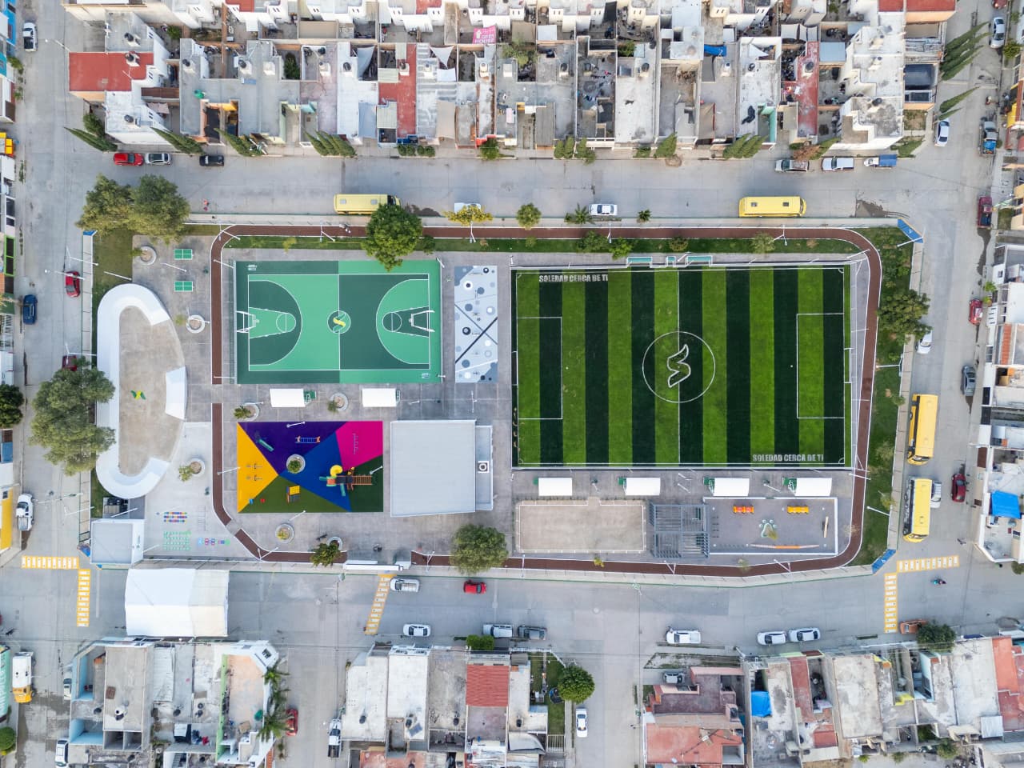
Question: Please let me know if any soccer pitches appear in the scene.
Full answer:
Yes, the frame does contain a soccer pitch.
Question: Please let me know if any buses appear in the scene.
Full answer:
Yes, the photo shows a bus.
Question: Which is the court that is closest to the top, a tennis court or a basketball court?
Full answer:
It looks like the court that is closest to the top is a basketball court.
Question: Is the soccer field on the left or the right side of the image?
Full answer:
The soccer field is on the right side of the image.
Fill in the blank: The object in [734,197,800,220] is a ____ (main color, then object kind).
yellow bus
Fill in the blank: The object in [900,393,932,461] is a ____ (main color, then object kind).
yellow bus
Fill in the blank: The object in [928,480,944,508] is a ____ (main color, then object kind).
white car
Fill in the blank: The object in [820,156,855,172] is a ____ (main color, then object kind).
white vehicle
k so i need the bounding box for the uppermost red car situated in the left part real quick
[113,151,145,167]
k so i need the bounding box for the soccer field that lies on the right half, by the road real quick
[512,265,851,468]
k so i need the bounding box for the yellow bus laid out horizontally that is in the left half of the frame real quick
[336,195,398,218]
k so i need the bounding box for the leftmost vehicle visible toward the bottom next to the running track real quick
[390,578,420,592]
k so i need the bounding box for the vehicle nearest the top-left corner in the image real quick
[22,22,39,53]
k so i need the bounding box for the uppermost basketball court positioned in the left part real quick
[237,261,440,383]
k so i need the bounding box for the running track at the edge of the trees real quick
[211,225,883,576]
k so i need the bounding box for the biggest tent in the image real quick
[125,566,234,636]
